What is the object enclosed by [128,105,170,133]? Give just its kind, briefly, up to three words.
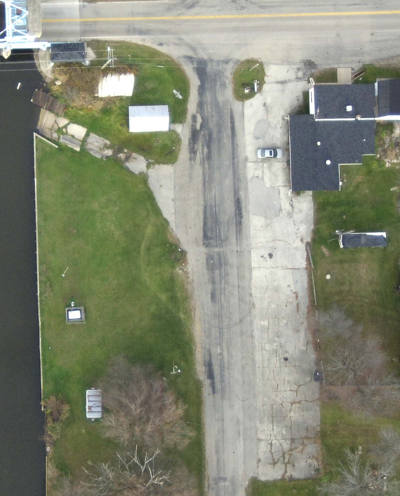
shed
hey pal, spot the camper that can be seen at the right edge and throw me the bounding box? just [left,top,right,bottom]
[330,233,387,249]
